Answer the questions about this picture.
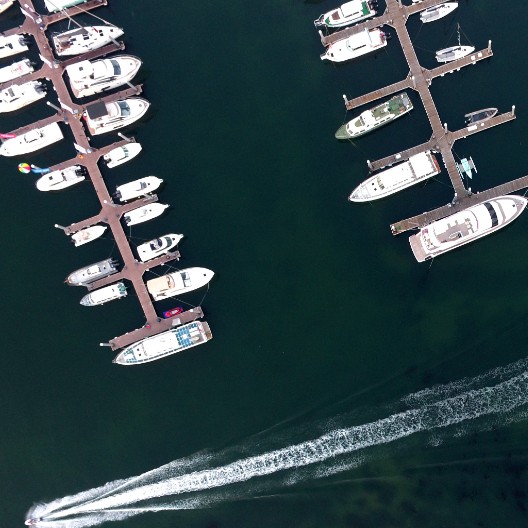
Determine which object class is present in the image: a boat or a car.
boat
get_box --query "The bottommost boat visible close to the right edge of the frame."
[412,195,528,261]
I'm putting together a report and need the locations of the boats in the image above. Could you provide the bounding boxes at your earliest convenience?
[86,98,151,136]
[71,226,107,246]
[0,60,38,81]
[66,259,121,285]
[350,153,442,200]
[79,283,131,305]
[318,1,378,25]
[24,517,41,524]
[463,109,497,126]
[436,31,475,62]
[322,30,388,60]
[48,0,127,57]
[115,178,163,201]
[336,92,414,137]
[109,322,213,365]
[421,2,458,24]
[163,305,183,318]
[69,55,143,98]
[149,268,214,300]
[46,0,84,12]
[36,167,89,191]
[412,195,528,261]
[0,81,51,112]
[138,233,185,262]
[105,144,143,169]
[124,204,170,227]
[0,37,33,59]
[0,124,67,156]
